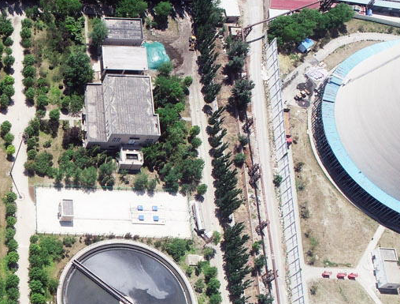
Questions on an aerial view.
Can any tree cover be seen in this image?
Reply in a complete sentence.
Yes, the picture does contain tree cover.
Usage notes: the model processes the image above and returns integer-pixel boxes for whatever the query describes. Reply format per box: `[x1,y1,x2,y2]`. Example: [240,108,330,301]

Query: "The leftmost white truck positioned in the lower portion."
[189,201,210,243]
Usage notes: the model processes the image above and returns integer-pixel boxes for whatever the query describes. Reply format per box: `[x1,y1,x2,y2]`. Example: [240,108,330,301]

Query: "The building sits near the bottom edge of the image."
[371,248,400,289]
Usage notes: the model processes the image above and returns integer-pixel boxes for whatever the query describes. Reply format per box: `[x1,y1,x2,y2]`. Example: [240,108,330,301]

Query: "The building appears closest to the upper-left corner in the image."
[101,16,143,46]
